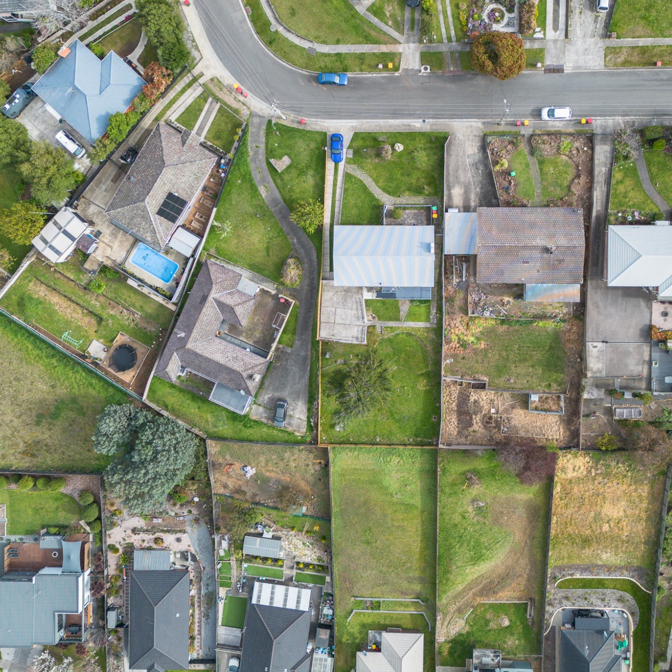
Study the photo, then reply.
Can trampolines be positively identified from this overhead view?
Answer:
Yes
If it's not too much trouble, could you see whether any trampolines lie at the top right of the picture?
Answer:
No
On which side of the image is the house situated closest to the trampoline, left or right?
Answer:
left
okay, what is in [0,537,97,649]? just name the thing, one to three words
house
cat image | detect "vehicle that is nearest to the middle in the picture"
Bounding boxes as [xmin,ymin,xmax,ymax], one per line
[273,399,289,427]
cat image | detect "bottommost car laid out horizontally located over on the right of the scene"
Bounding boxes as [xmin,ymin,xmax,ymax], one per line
[540,106,572,121]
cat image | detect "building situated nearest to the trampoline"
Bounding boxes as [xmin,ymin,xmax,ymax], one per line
[151,259,270,415]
